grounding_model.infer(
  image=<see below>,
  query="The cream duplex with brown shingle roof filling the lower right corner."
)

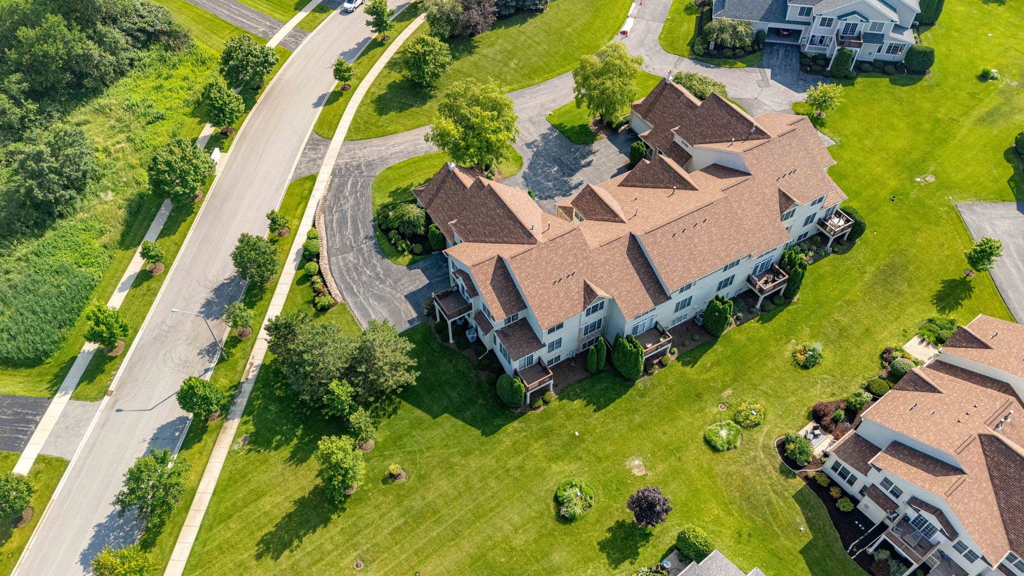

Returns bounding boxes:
[822,314,1024,576]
